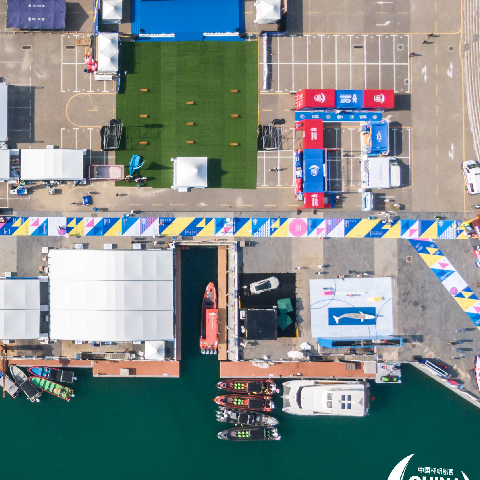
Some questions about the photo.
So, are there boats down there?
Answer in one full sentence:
Yes, a boat is visible in the scene.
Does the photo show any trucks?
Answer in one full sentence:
Yes, there's a truck down there.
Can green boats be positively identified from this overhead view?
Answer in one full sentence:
Yes, the photo shows a green boat.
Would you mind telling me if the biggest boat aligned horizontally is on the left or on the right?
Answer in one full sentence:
The biggest boat aligned horizontally is on the right side of the image.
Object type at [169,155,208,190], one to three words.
tent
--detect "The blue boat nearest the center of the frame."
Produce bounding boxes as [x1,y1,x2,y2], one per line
[128,154,141,174]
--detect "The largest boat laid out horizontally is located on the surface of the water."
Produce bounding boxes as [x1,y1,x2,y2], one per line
[281,380,373,415]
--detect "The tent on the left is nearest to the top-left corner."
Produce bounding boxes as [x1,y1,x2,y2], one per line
[6,0,66,32]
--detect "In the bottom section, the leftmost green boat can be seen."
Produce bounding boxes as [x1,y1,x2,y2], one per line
[29,377,76,400]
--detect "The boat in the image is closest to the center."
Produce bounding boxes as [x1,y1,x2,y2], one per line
[199,281,218,353]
